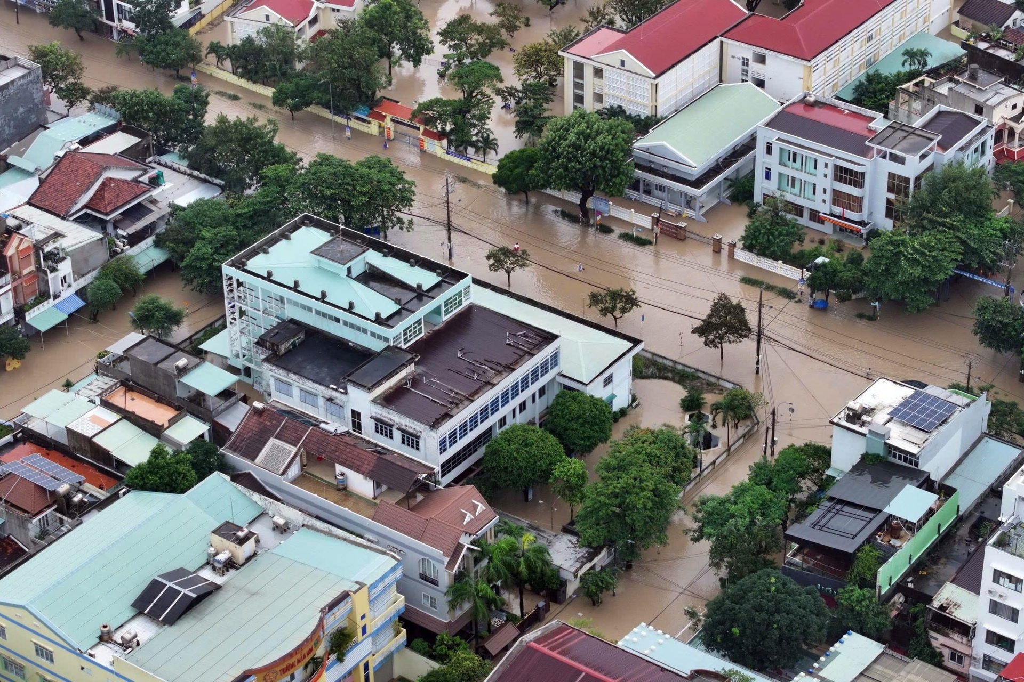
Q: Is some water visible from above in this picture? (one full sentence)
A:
Yes, there is water in the image.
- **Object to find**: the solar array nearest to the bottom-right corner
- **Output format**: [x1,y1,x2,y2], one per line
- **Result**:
[888,390,958,433]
